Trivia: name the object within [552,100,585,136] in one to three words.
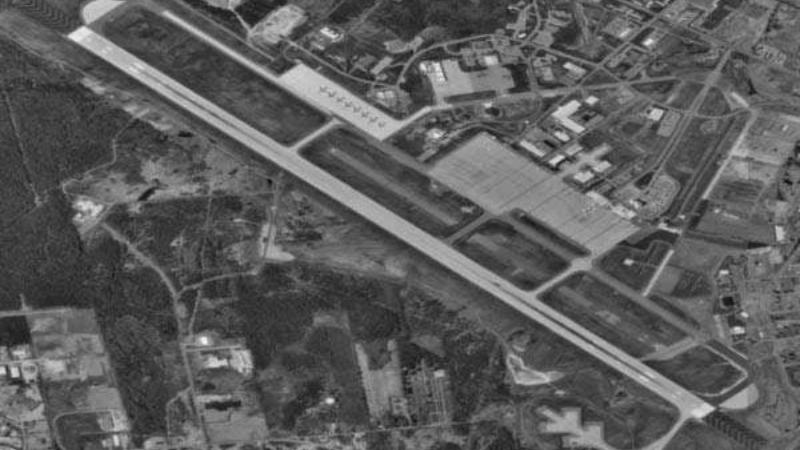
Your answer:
hangar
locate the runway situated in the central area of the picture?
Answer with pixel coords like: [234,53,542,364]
[69,26,716,420]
